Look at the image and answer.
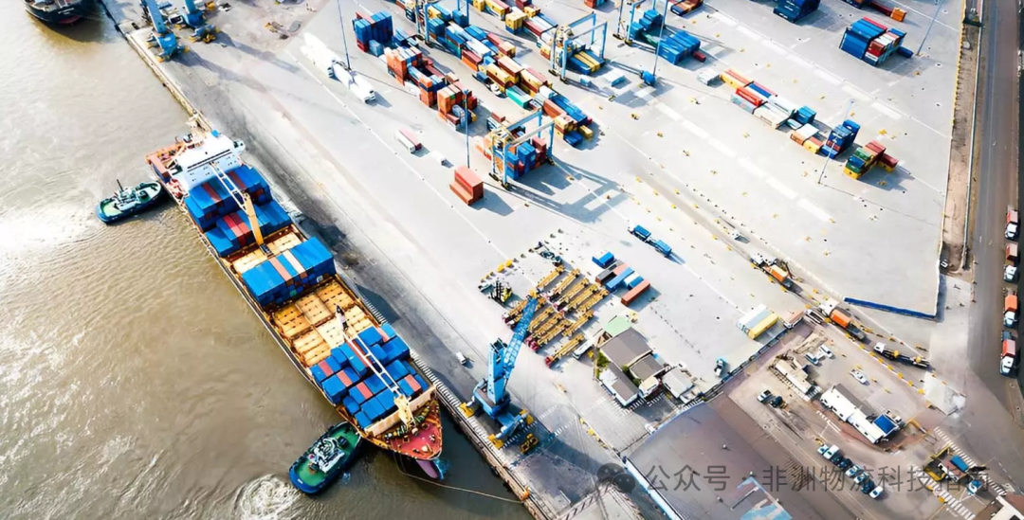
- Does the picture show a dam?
No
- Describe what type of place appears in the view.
port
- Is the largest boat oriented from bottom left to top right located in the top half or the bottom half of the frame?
bottom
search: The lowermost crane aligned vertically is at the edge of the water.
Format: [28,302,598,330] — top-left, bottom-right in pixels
[467,289,537,443]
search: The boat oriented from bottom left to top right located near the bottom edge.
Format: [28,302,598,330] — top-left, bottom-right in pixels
[283,424,369,501]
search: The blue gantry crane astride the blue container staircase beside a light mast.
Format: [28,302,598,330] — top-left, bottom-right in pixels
[613,0,671,46]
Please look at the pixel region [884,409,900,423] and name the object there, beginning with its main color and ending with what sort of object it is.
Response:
white car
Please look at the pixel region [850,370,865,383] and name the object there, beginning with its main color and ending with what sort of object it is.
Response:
white vehicle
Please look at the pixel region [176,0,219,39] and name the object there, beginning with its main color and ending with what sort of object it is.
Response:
blue crane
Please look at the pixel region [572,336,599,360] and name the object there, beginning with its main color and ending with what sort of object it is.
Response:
white bus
